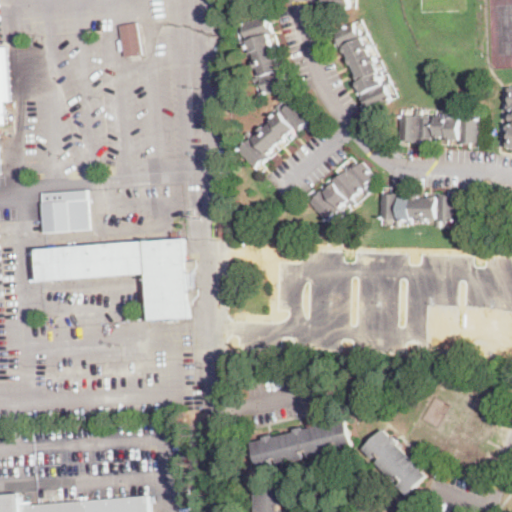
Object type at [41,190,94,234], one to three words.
building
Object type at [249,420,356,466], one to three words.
building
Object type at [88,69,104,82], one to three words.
vehicle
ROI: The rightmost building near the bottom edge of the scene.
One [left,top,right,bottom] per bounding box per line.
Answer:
[360,430,429,494]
